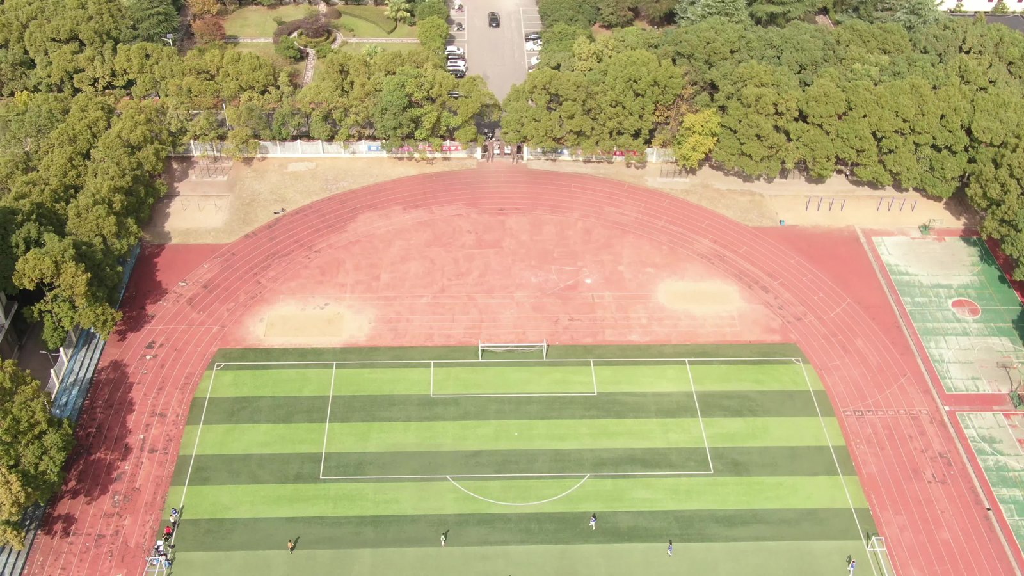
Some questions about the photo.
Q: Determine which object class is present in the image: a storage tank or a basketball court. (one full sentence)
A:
Of the two, only a basketball court appears.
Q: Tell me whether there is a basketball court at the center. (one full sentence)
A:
No, no basketball court is visible at the center.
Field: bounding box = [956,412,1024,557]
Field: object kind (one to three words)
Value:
basketball court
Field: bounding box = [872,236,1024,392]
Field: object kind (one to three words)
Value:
basketball court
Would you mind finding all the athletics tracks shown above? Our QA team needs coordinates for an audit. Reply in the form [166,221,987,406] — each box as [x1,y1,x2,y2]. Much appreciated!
[20,157,1018,576]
